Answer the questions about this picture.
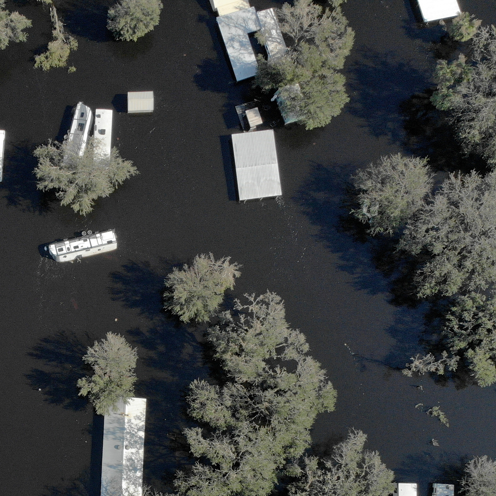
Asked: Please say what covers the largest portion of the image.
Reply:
water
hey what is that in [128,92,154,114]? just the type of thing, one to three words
shed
